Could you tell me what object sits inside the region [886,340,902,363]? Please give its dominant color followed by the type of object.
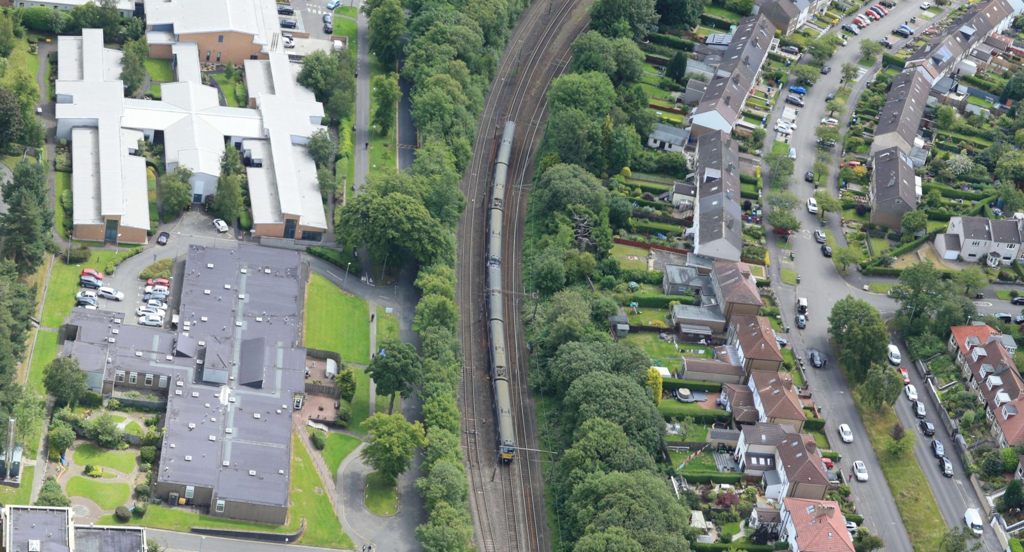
white vehicle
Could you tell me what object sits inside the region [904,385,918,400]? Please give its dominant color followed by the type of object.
white car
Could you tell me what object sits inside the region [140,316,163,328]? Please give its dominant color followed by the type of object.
white vehicle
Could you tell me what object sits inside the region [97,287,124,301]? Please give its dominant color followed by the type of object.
white car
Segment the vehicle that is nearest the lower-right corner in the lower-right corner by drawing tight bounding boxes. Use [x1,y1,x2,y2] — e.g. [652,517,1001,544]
[963,507,984,533]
